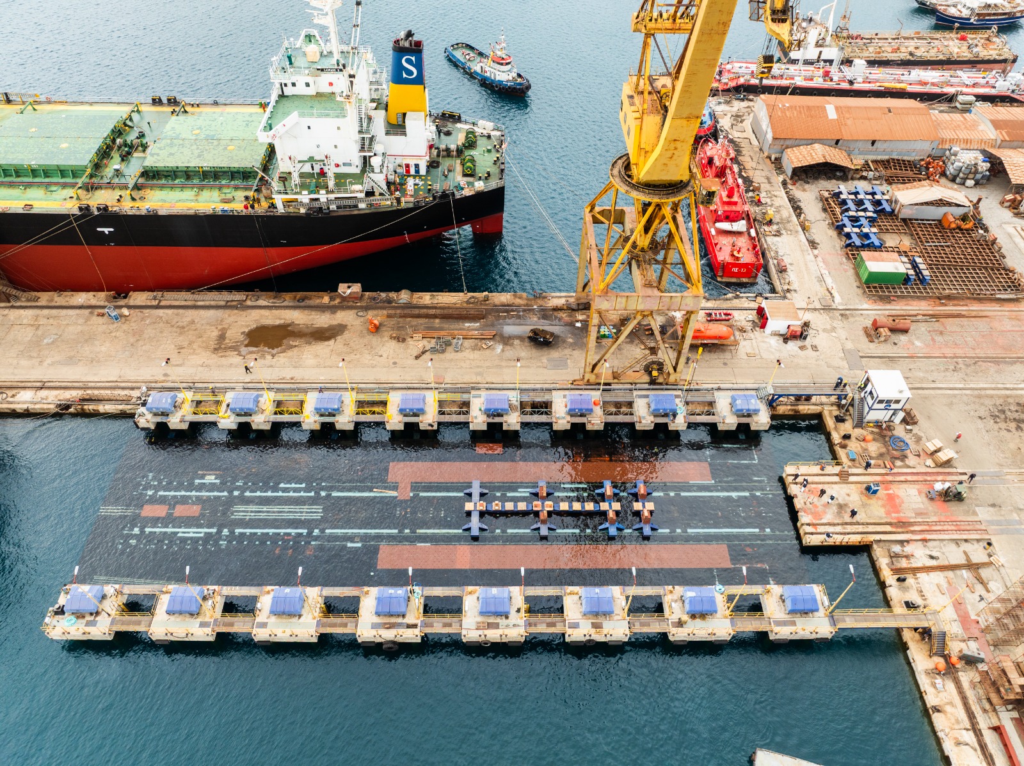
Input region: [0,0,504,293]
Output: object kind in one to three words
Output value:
ship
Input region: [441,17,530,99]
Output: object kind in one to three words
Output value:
boat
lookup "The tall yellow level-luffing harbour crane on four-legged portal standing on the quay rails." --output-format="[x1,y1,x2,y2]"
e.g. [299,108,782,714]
[565,0,810,385]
